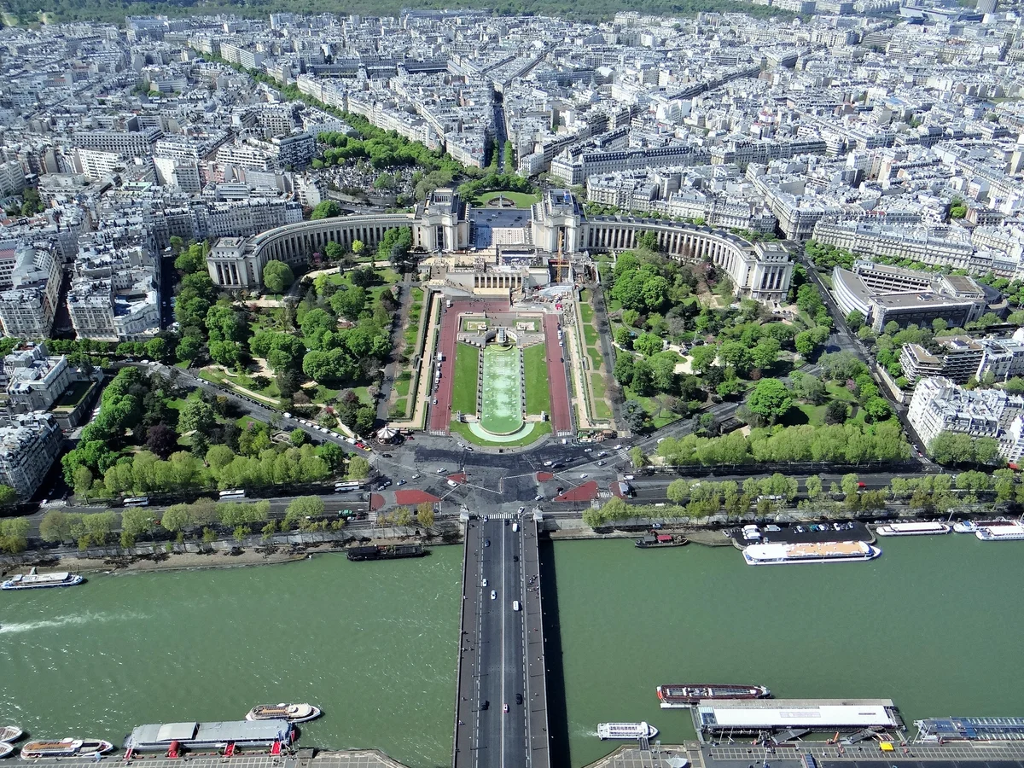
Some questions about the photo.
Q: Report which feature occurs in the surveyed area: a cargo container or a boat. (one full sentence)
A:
The image shows a boat.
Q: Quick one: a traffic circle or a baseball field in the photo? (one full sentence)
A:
The image shows a traffic circle.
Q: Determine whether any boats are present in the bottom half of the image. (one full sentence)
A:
Yes, looking in the bottom half of the image, one can make out a boat.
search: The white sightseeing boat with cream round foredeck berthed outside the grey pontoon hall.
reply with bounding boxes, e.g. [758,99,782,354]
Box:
[245,703,321,725]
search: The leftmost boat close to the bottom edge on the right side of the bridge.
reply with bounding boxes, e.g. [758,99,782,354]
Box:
[598,722,658,742]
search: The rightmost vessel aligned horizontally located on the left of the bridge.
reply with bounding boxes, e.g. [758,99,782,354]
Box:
[348,547,426,564]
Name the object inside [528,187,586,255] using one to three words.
building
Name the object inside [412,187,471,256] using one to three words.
building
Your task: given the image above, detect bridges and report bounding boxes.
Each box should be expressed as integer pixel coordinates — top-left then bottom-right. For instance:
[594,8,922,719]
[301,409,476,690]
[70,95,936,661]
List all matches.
[452,522,552,768]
